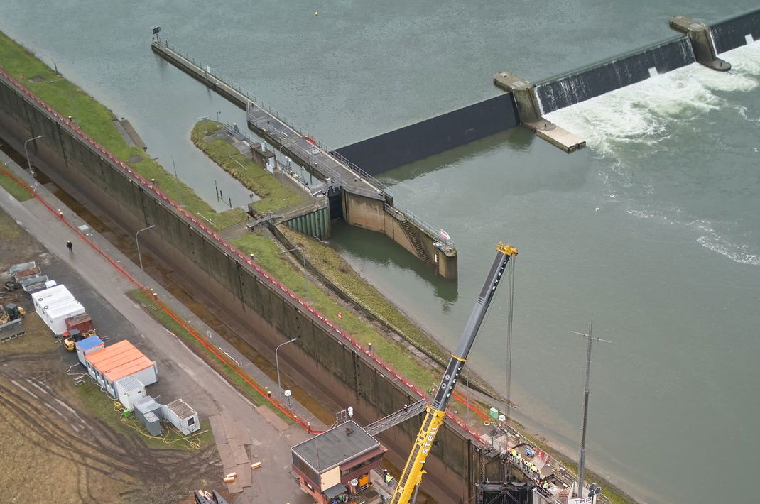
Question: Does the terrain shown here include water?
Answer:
Yes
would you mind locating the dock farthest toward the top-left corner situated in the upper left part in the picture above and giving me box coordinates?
[113,117,152,153]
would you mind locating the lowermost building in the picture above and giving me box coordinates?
[292,420,393,504]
